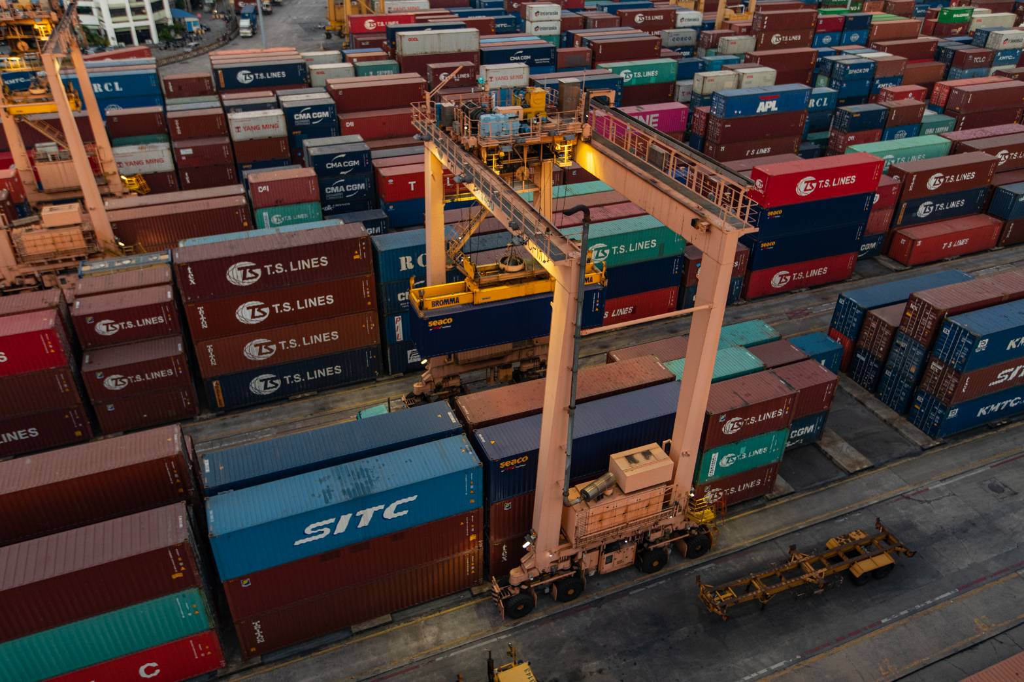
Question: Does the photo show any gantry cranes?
Yes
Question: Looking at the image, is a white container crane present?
No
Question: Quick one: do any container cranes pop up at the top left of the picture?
Yes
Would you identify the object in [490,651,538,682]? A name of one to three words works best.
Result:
vehicle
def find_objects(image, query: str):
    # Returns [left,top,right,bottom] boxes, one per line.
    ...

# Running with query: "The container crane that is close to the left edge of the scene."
[0,0,148,283]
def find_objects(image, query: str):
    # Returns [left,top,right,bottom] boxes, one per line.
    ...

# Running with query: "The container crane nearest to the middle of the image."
[394,46,777,625]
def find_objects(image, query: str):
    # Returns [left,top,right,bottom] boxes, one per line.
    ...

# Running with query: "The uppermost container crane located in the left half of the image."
[324,0,387,49]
